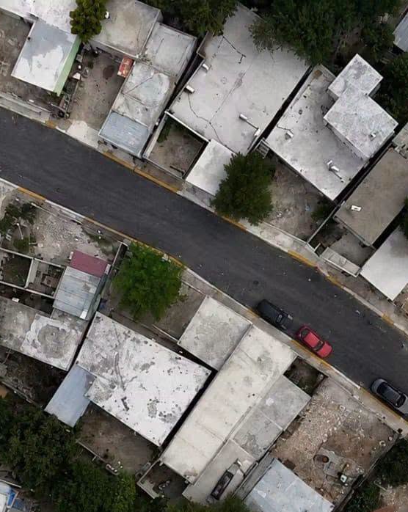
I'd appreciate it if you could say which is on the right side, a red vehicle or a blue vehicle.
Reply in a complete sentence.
Looking on the right side, you will find a red vehicle.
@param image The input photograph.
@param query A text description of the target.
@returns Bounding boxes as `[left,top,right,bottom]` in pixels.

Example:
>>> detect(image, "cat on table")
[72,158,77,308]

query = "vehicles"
[209,464,238,501]
[292,323,334,359]
[252,296,295,331]
[369,376,408,417]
